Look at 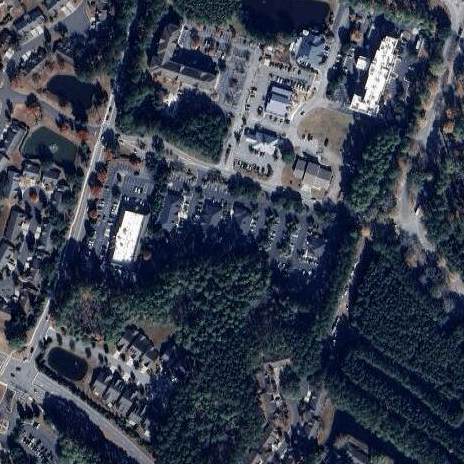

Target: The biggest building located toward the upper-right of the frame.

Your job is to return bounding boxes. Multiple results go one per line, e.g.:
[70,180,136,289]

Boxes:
[350,36,404,113]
